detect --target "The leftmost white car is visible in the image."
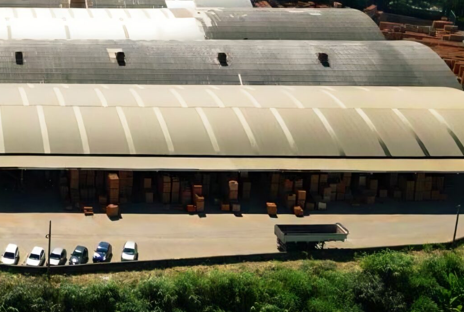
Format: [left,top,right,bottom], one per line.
[0,245,20,267]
